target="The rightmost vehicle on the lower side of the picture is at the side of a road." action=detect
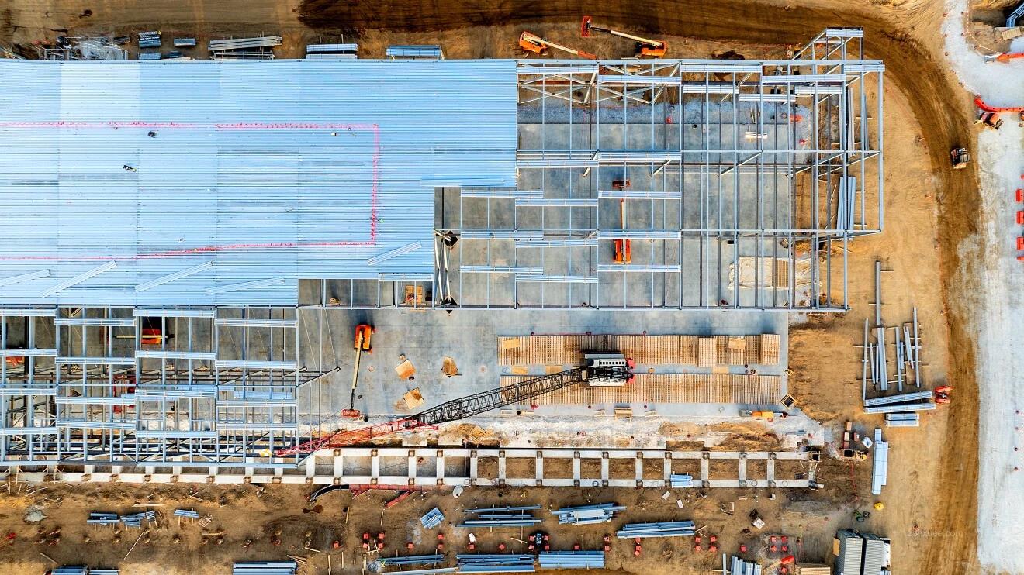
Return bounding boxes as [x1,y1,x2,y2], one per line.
[933,386,953,402]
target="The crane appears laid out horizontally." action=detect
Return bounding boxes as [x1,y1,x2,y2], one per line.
[274,353,635,454]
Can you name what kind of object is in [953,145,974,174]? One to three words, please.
work vehicle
